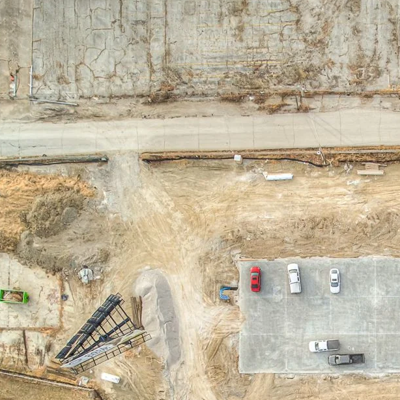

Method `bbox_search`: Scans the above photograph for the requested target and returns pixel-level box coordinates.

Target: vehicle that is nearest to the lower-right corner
[328,352,364,366]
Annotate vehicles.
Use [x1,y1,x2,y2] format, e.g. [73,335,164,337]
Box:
[307,339,341,352]
[328,352,364,366]
[328,268,341,294]
[246,267,260,293]
[286,261,301,295]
